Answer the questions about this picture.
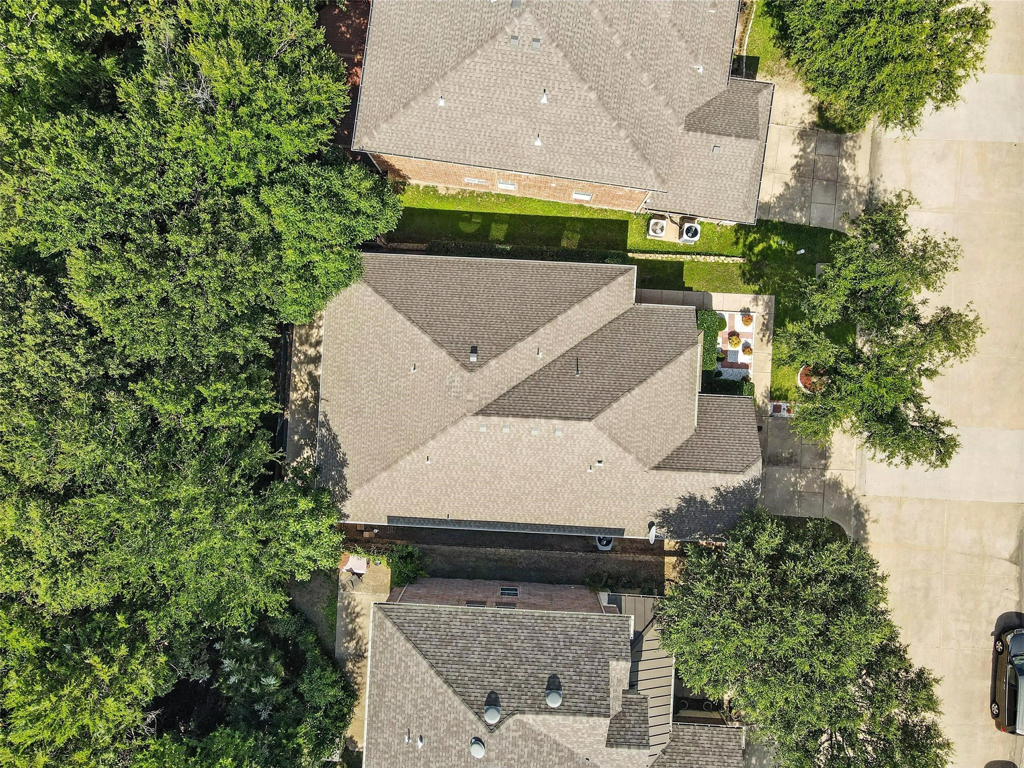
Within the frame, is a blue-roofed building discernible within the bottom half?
No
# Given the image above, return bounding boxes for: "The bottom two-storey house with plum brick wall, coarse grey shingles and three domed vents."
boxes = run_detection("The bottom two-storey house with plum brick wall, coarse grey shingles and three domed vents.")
[358,585,747,768]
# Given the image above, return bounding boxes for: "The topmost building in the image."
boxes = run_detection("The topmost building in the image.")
[350,0,777,227]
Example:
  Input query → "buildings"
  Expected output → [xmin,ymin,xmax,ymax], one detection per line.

[350,0,777,227]
[358,585,747,768]
[313,252,763,544]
